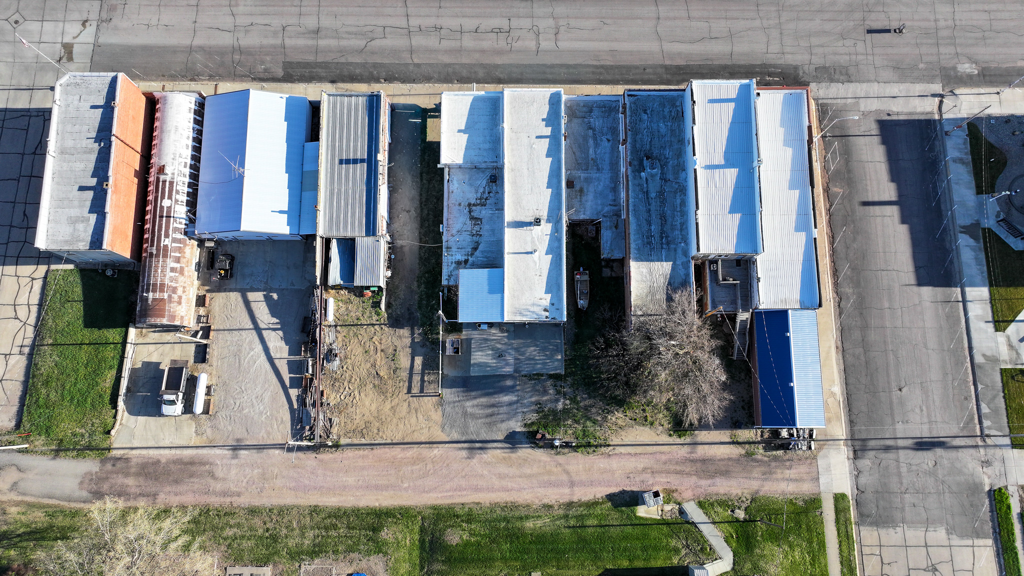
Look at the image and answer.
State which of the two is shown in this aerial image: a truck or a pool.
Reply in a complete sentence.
Of the two, only a truck appears.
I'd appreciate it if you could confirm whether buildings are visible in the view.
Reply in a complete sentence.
Yes, the picture does show a building.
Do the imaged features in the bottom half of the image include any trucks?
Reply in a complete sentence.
Yes, a truck can be seen in the bottom half of the image.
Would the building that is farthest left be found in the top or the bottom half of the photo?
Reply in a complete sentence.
Seen from above, the building that is farthest left lies in the top half of the view.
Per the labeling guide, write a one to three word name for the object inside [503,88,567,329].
building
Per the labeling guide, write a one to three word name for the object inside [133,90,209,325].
shed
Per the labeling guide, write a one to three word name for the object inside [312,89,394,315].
building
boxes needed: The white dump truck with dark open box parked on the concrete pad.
[159,357,193,419]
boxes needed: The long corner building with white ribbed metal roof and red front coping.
[752,85,824,312]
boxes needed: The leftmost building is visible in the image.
[36,75,150,264]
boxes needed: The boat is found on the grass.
[575,267,588,309]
